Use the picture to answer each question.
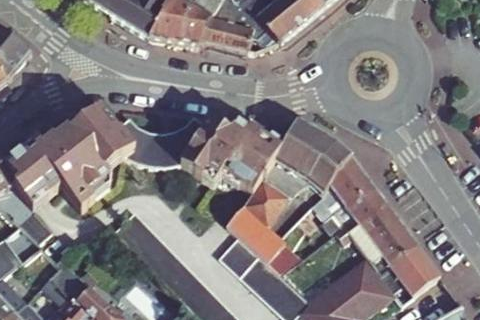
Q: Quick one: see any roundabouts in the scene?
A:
Yes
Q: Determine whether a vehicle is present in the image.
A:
Yes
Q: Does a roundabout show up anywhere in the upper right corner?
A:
Yes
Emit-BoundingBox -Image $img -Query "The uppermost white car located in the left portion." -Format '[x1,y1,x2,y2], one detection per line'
[128,46,148,59]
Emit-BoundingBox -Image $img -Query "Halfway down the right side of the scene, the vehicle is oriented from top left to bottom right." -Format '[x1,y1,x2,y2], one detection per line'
[360,122,380,138]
